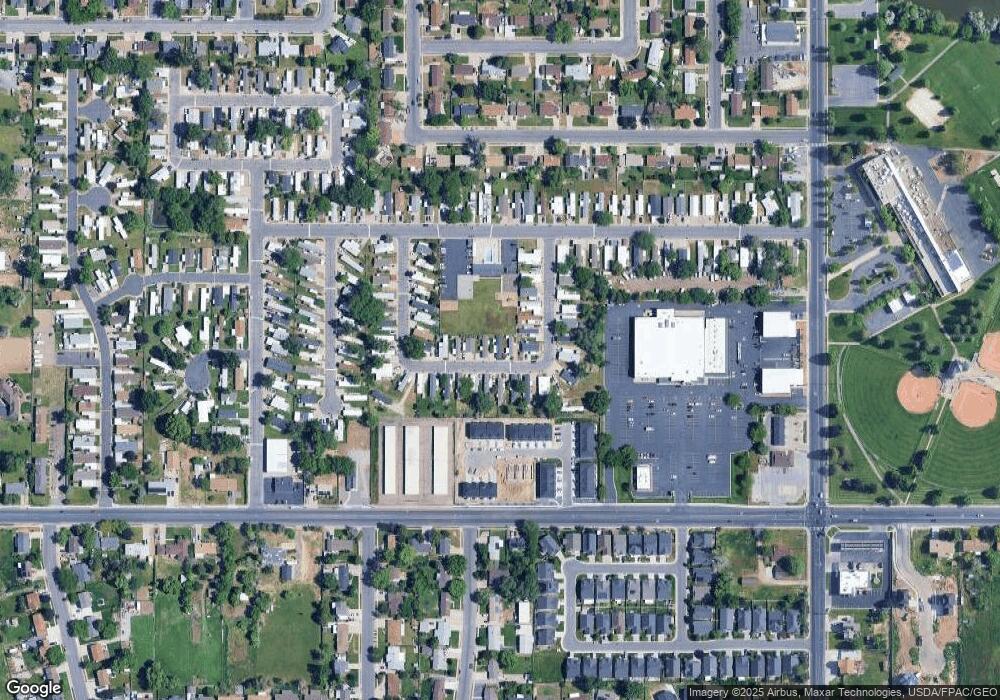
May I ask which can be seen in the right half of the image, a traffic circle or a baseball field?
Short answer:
baseball field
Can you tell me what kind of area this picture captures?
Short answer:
residential area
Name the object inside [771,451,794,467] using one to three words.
house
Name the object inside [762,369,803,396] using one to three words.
building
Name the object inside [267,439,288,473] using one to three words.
building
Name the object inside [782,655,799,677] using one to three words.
house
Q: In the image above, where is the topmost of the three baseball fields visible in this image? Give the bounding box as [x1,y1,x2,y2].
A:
[979,305,1000,375]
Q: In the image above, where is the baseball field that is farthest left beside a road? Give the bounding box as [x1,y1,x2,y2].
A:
[840,345,946,472]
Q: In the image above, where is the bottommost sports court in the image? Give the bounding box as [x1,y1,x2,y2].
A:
[906,88,949,128]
